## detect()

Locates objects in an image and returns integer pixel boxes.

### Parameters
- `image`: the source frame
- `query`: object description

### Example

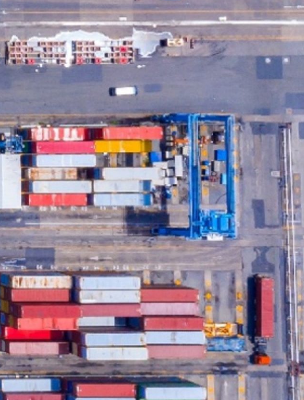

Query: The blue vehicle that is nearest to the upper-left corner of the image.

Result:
[0,134,28,151]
